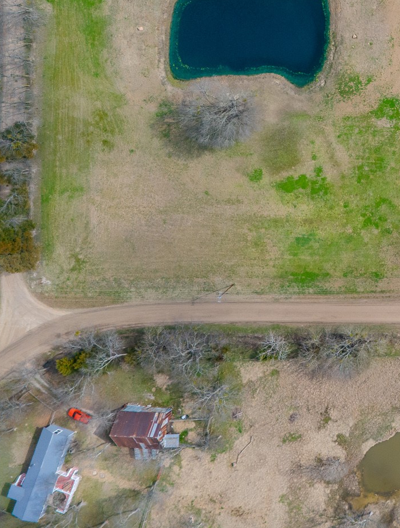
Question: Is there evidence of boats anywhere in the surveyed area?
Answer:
No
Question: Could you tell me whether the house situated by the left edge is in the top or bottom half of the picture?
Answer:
bottom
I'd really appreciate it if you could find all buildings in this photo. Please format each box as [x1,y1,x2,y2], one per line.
[109,407,168,450]
[7,424,74,522]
